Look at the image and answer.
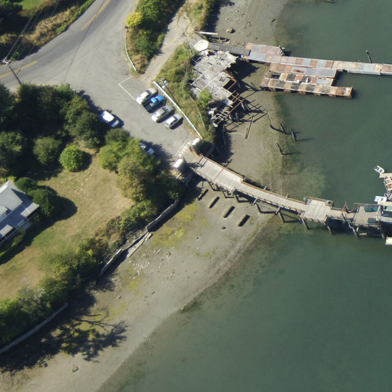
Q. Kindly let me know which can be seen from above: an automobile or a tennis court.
automobile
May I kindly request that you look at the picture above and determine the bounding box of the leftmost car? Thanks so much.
[101,109,119,126]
